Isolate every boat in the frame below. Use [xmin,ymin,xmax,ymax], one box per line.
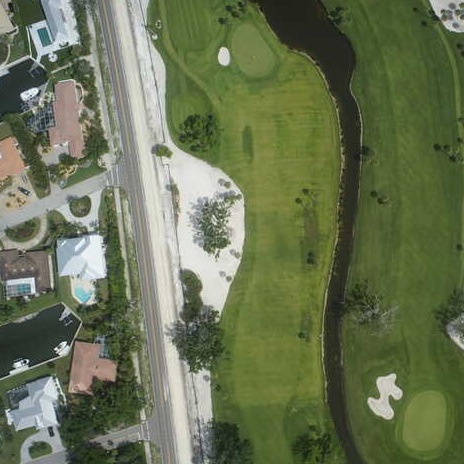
[13,359,29,368]
[54,342,69,355]
[18,88,39,100]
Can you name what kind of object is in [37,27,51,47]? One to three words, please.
swimming pool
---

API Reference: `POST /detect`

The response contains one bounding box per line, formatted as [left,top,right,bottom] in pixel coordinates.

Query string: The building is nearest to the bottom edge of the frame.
[10,376,59,430]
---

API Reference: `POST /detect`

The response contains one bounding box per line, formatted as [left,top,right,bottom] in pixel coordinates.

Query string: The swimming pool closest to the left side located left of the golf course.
[7,278,36,297]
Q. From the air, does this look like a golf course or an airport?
golf course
